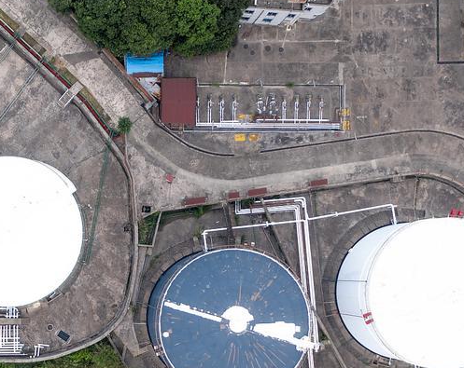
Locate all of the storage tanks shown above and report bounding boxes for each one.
[0,154,86,311]
[329,211,464,368]
[141,245,328,368]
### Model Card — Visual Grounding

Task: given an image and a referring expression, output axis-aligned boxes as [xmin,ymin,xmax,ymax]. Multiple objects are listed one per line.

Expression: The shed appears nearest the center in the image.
[158,77,196,129]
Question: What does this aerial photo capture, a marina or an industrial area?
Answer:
industrial area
